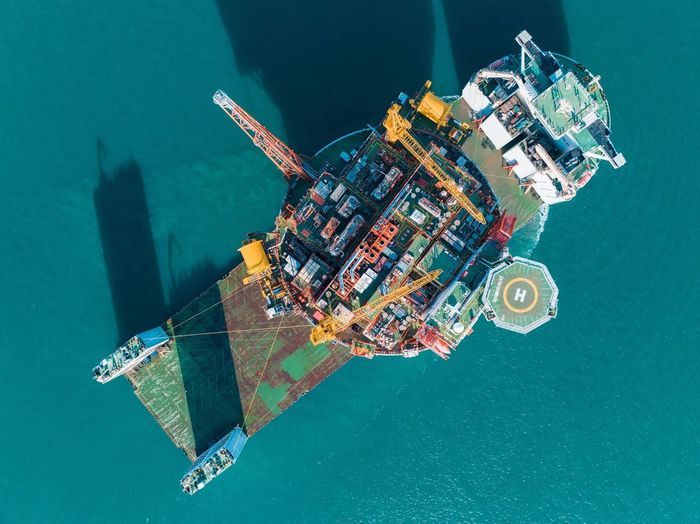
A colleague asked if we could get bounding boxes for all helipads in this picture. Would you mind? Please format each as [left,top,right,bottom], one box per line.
[481,255,560,333]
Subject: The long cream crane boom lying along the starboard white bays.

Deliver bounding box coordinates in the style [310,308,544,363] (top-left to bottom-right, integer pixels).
[532,144,575,197]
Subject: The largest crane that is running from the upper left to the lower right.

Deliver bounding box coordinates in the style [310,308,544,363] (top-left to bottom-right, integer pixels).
[381,112,486,223]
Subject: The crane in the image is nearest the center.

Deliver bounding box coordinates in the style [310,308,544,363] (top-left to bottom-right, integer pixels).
[305,270,443,344]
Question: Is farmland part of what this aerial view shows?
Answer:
No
